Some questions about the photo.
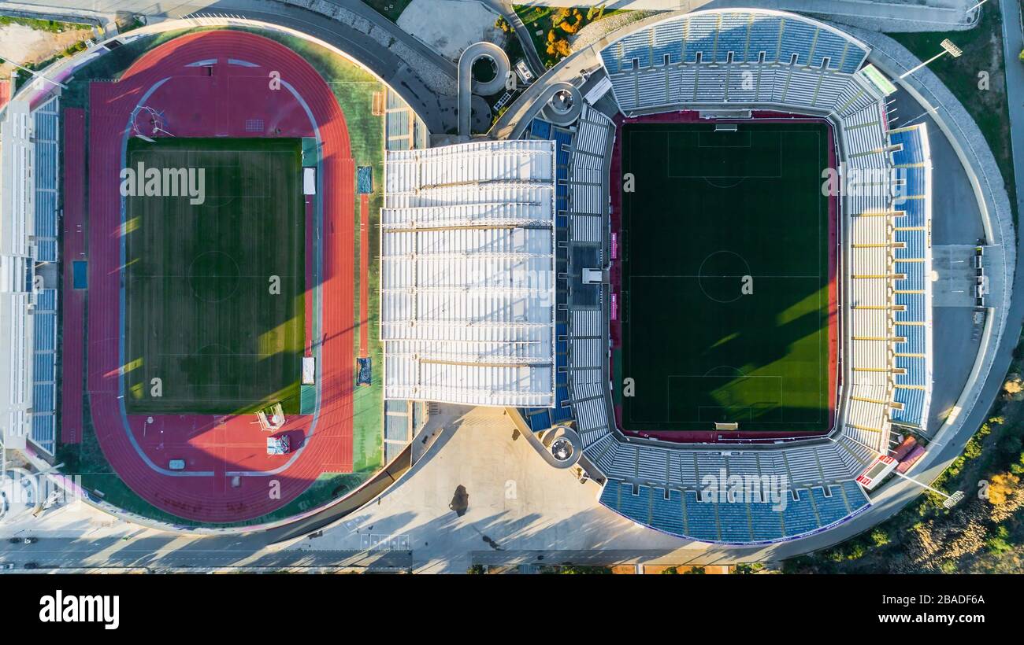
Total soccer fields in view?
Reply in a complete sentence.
I count 2 soccer fields.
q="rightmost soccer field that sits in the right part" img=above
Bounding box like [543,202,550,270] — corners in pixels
[621,122,829,431]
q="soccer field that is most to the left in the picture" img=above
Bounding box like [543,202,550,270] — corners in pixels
[126,137,302,414]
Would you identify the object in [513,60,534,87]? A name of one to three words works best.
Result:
building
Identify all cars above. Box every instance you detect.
[29,538,42,544]
[25,563,38,569]
[8,538,21,544]
[0,563,13,569]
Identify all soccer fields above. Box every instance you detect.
[621,122,829,431]
[126,137,302,414]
